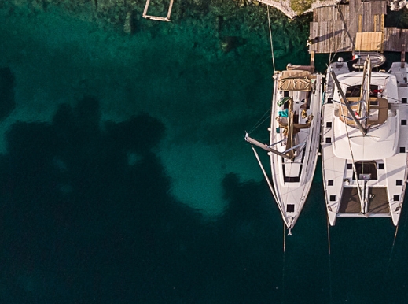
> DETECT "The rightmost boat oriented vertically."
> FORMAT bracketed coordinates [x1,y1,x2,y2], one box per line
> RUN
[318,48,408,268]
